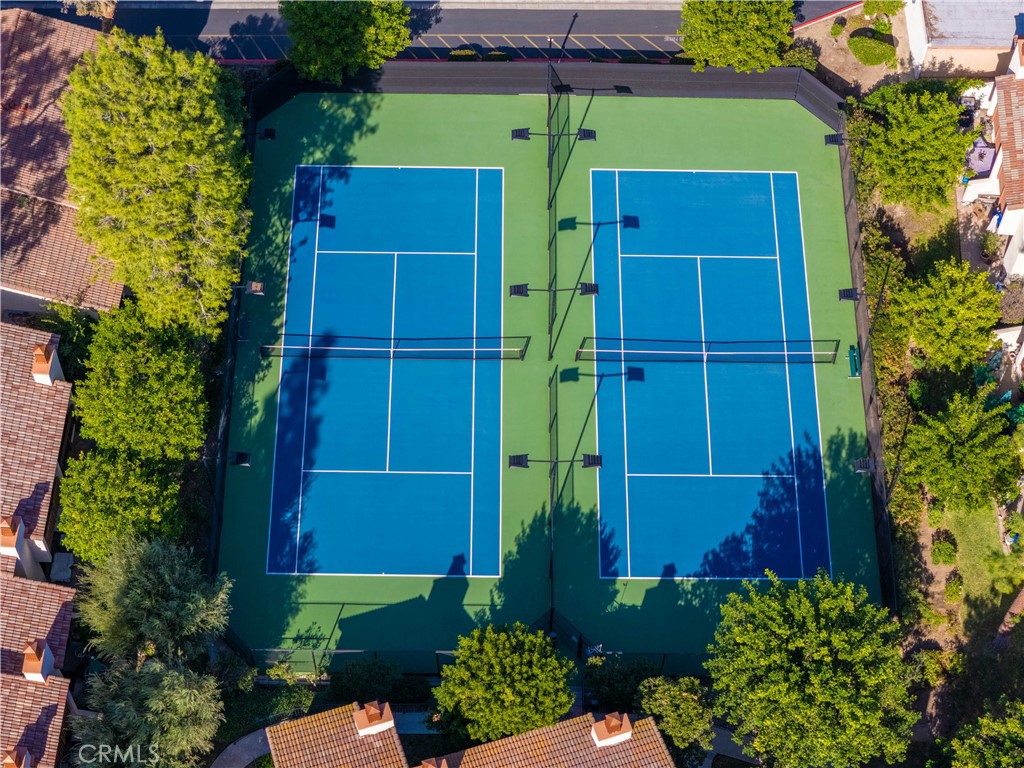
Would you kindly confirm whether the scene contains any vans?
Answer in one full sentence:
No, I can't see a single van in this photo.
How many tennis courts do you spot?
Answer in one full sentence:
There are 2 tennis courts in the image.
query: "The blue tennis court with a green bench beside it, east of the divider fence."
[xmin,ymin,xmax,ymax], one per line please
[547,95,884,676]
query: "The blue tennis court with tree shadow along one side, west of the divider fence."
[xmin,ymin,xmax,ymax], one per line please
[217,93,551,673]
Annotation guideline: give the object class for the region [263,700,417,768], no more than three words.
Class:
house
